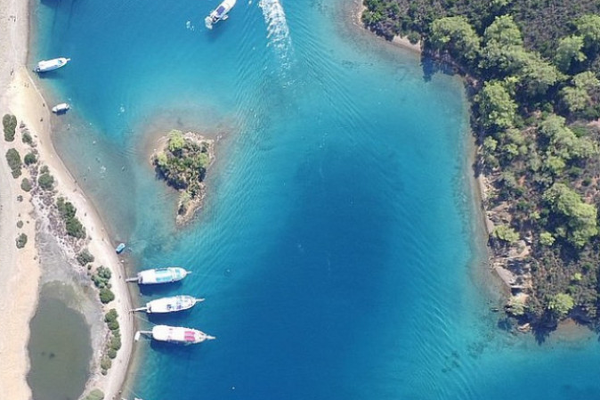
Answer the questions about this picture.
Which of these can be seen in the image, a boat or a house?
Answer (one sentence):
This aerial view contains a boat.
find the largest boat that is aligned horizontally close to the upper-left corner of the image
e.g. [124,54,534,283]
[30,57,70,72]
